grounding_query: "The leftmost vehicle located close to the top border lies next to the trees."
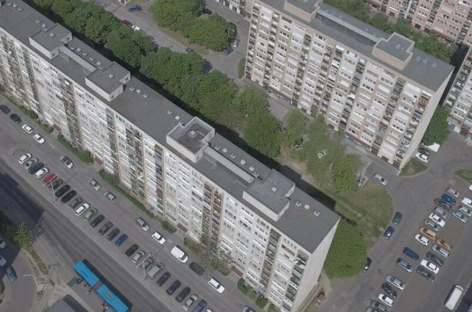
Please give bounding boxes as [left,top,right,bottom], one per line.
[127,1,142,13]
